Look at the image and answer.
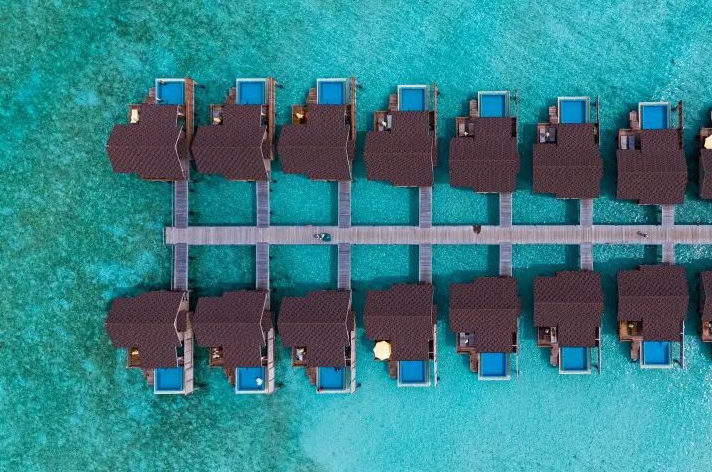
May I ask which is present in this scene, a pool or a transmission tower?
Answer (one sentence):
There is a pool in the scene.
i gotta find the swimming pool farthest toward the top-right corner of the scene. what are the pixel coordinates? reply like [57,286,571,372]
[637,102,670,131]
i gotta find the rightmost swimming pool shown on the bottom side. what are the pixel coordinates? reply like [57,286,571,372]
[639,339,672,368]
